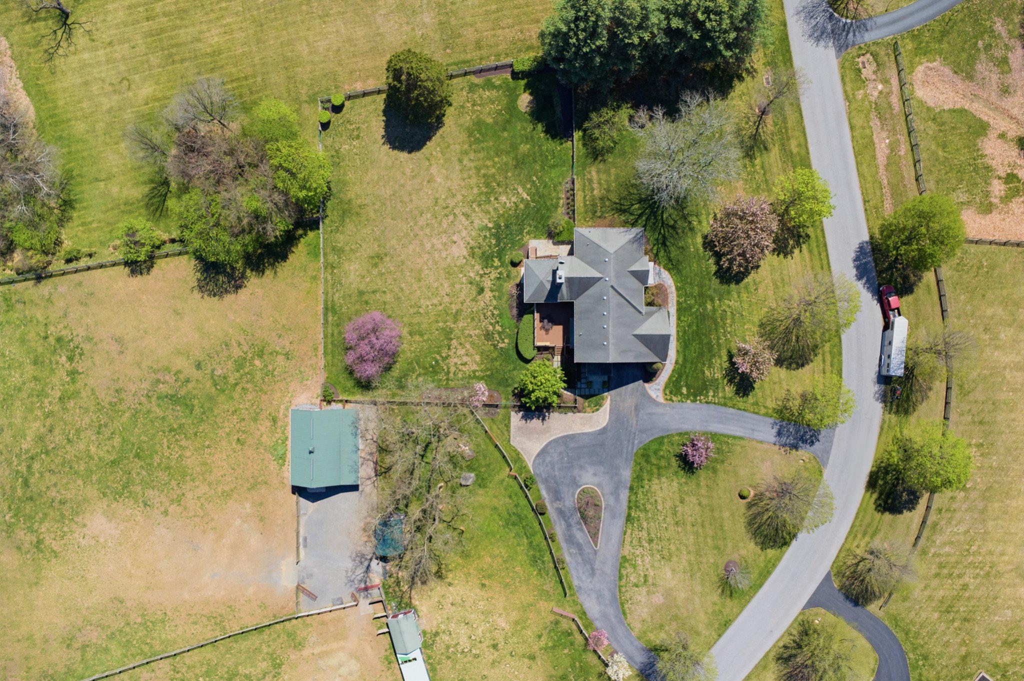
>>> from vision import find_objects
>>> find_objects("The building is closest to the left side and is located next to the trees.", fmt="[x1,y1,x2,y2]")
[291,409,360,494]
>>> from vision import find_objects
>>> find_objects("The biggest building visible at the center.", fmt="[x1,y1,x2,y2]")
[524,227,672,363]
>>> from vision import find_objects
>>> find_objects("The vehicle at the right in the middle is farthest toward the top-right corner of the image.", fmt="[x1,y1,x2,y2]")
[877,284,900,329]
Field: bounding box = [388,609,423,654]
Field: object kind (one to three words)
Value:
shed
